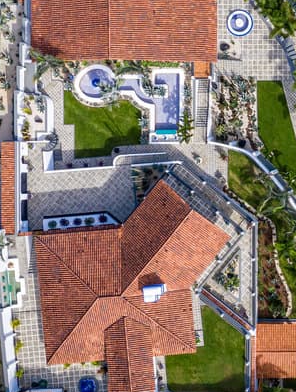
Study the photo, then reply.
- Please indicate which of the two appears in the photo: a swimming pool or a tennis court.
swimming pool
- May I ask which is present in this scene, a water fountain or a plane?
water fountain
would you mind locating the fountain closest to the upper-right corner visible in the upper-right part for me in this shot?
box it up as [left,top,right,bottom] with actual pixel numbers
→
[226,9,254,37]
